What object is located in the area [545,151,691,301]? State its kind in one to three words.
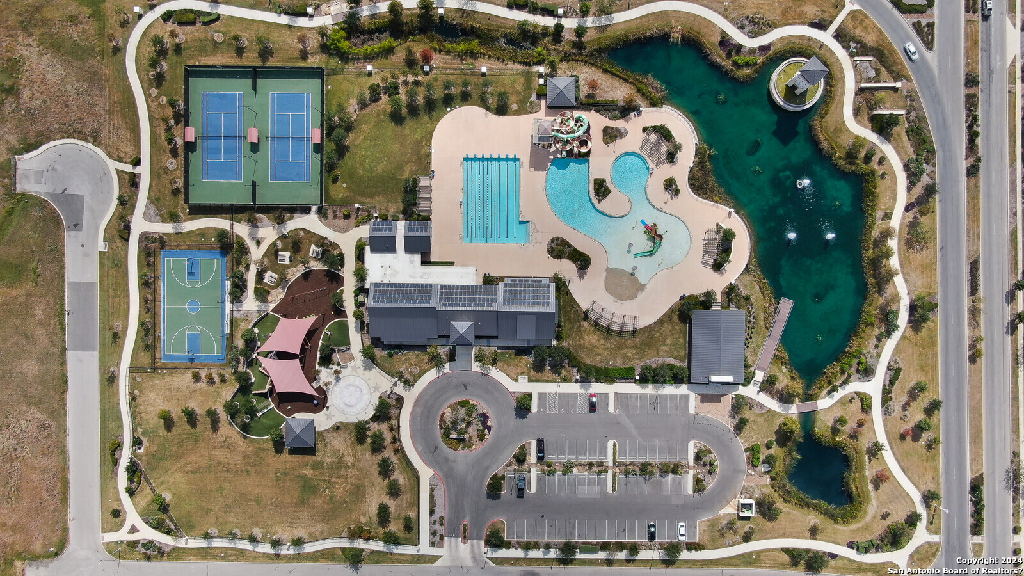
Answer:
swimming pool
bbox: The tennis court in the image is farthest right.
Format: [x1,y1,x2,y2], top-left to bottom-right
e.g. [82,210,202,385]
[254,69,318,203]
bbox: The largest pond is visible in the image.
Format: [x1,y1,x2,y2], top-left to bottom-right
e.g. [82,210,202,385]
[613,39,866,418]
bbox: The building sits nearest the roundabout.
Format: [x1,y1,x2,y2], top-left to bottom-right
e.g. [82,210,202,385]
[364,221,558,371]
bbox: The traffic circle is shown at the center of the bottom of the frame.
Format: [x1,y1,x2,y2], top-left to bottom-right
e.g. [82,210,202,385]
[410,371,518,478]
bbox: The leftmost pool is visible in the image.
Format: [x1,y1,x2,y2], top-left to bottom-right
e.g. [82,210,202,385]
[460,154,531,244]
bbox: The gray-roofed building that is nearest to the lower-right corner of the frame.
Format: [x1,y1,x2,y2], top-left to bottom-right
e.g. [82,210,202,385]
[687,310,745,394]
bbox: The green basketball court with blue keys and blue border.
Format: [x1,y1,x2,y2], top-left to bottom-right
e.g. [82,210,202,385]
[161,250,226,362]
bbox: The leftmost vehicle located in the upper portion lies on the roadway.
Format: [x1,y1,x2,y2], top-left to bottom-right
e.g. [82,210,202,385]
[903,42,918,61]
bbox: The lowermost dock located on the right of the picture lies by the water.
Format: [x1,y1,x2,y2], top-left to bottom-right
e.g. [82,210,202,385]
[755,297,795,375]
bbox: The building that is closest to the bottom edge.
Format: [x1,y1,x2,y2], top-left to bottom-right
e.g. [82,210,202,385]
[286,417,316,447]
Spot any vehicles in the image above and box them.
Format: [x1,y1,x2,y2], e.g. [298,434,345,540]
[589,394,597,411]
[647,521,656,539]
[677,522,686,540]
[517,473,524,496]
[537,438,544,459]
[903,42,918,61]
[982,0,993,19]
